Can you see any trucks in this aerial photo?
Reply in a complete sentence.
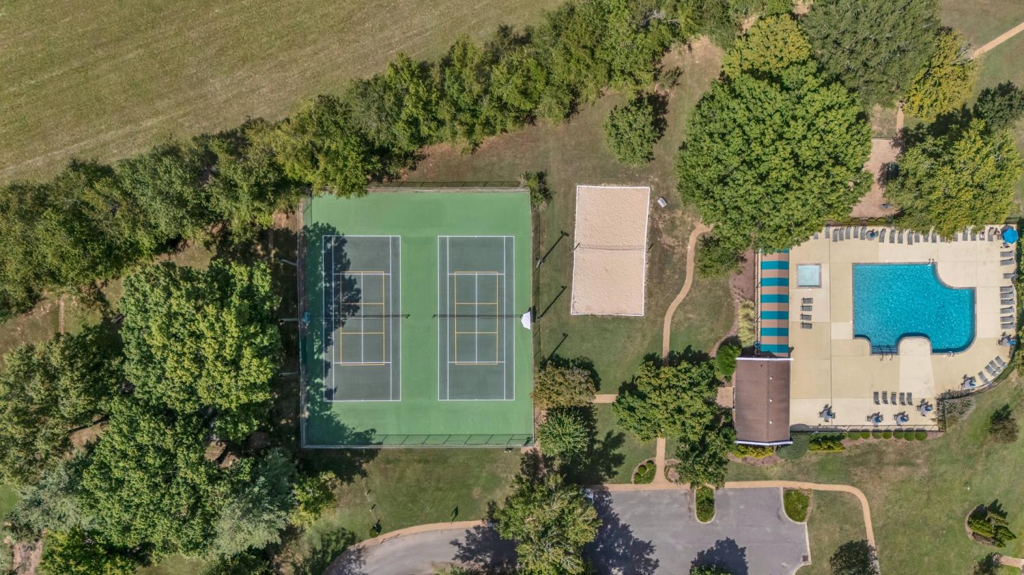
No, I can see no truck in this picture.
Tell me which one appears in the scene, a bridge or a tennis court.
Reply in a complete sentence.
I can see a tennis court in this picture.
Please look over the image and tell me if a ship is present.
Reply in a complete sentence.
No, this view has no ship in it.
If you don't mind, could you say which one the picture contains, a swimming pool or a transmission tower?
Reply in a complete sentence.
Looking from above, you can make out a swimming pool.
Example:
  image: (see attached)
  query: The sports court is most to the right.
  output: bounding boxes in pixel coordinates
[571,185,650,316]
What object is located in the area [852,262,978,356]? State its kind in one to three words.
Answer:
swimming pool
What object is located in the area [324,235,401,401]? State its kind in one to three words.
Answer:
tennis court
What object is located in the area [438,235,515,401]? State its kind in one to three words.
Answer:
tennis court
